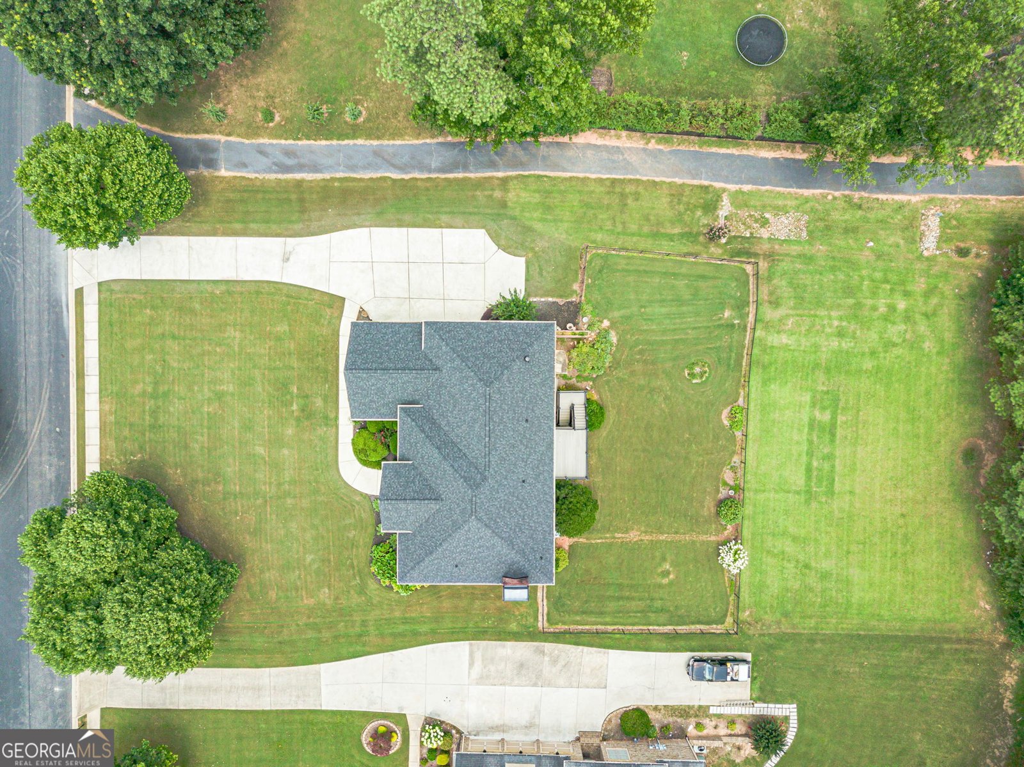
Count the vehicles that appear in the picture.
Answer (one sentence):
The count comes to 1 vehicle.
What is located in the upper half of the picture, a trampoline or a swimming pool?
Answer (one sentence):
The one visible in the upper half of the picture is a trampoline.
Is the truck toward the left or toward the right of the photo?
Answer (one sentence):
You can find the truck on the right side of the picture.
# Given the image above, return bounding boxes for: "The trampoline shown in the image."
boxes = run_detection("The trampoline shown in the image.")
[736,15,787,70]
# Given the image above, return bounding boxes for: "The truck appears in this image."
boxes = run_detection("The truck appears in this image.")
[685,655,748,687]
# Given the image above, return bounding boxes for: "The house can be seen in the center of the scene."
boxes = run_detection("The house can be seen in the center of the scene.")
[343,320,556,601]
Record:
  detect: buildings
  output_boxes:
[451,734,706,767]
[343,320,556,601]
